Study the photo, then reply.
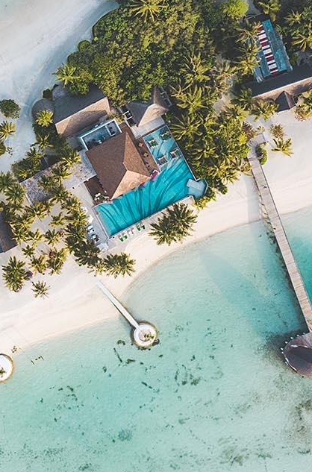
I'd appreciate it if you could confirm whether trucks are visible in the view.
No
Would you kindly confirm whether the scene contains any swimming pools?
Yes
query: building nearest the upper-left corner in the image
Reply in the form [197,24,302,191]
[48,82,112,135]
